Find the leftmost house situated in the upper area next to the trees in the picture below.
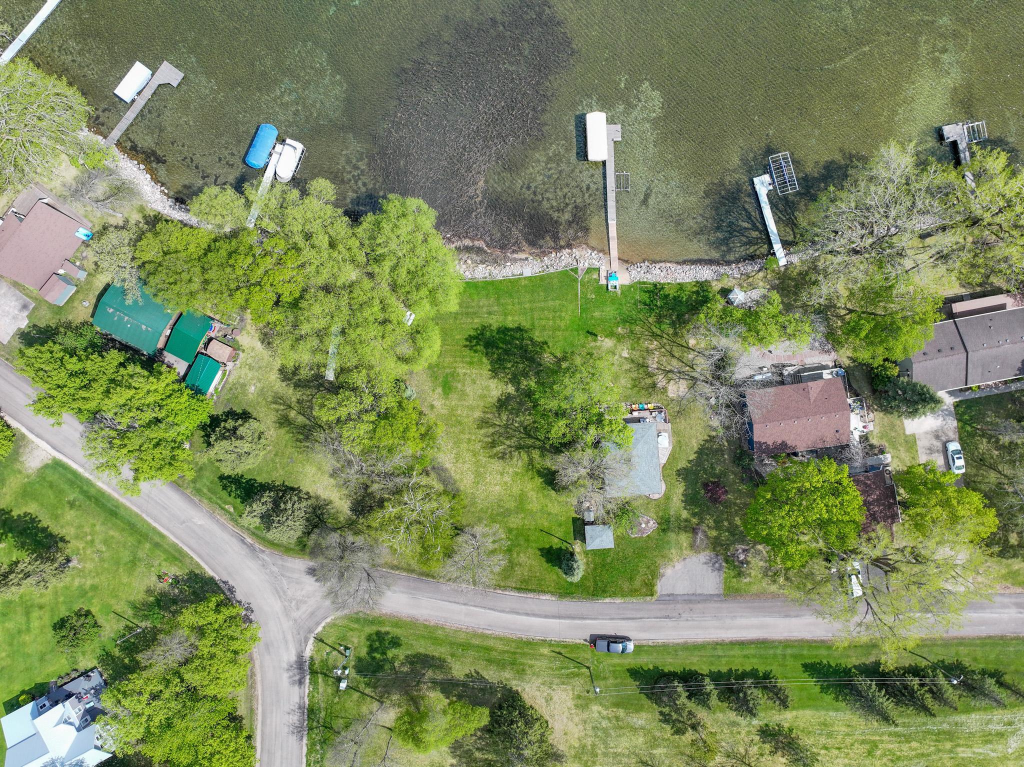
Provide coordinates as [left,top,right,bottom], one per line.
[0,198,93,304]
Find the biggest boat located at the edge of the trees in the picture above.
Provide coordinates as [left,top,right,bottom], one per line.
[278,140,308,183]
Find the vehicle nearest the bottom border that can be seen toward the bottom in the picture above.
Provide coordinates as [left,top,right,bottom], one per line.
[596,639,636,657]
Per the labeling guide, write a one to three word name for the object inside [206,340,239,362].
shed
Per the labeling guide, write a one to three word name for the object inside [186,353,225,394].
shed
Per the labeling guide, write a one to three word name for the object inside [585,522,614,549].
building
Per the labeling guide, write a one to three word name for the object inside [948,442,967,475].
car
